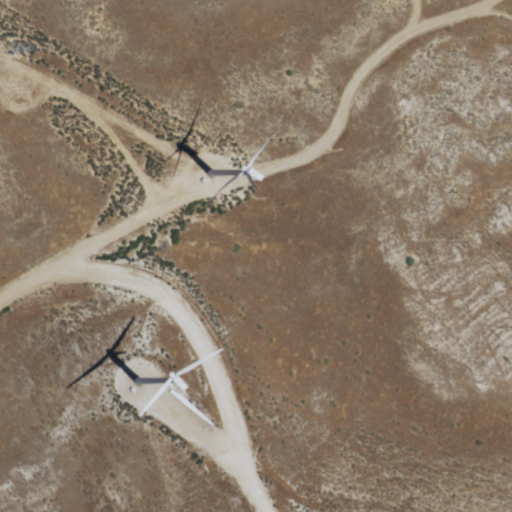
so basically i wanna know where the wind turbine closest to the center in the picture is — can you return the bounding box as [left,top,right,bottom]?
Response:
[204,124,278,192]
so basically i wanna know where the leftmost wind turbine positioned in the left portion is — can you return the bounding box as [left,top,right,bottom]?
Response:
[132,350,219,414]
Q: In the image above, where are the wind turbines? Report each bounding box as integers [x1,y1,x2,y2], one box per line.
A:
[204,124,278,192]
[132,350,219,414]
